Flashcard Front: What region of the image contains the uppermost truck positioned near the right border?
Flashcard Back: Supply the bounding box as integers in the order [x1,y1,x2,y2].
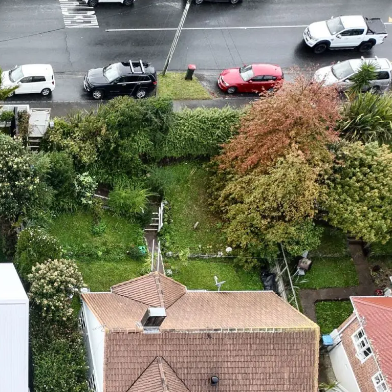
[297,14,382,52]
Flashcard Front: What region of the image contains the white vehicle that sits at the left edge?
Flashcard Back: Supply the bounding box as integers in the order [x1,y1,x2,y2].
[0,61,55,94]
